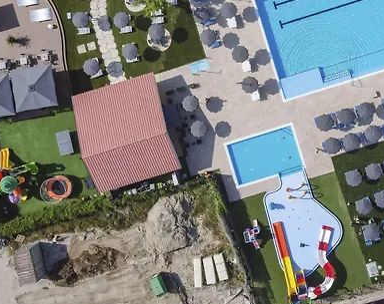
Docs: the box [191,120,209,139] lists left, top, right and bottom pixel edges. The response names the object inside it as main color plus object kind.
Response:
gray umbrella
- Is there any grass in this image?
Yes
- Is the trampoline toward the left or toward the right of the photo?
left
